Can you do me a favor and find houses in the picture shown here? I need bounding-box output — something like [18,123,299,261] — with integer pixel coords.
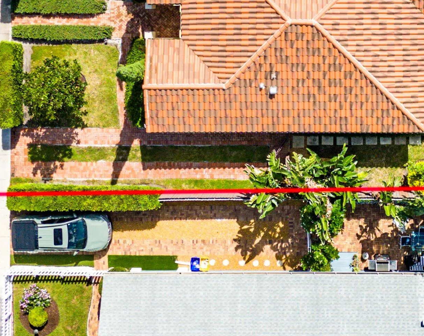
[140,0,424,133]
[99,269,424,336]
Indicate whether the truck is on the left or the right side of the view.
left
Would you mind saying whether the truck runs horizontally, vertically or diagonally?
horizontally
